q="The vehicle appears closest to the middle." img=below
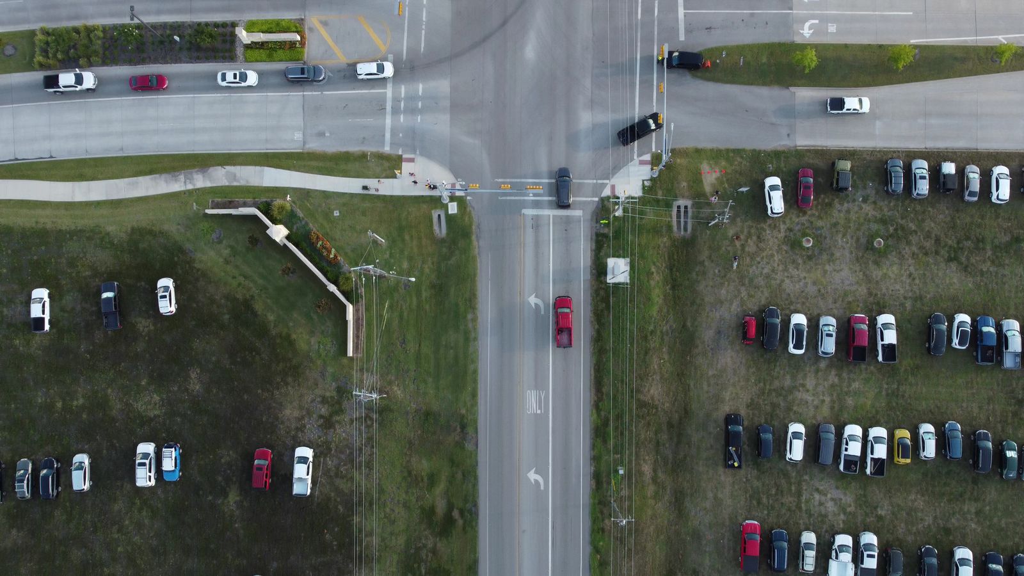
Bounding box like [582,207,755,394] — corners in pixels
[554,296,574,349]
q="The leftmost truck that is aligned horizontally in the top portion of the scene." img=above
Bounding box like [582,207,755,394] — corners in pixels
[40,69,100,94]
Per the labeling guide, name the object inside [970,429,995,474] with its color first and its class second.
black car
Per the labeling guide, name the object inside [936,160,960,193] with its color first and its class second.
black vehicle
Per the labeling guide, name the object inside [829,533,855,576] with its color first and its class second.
white truck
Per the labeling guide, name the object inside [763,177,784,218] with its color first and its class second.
white car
